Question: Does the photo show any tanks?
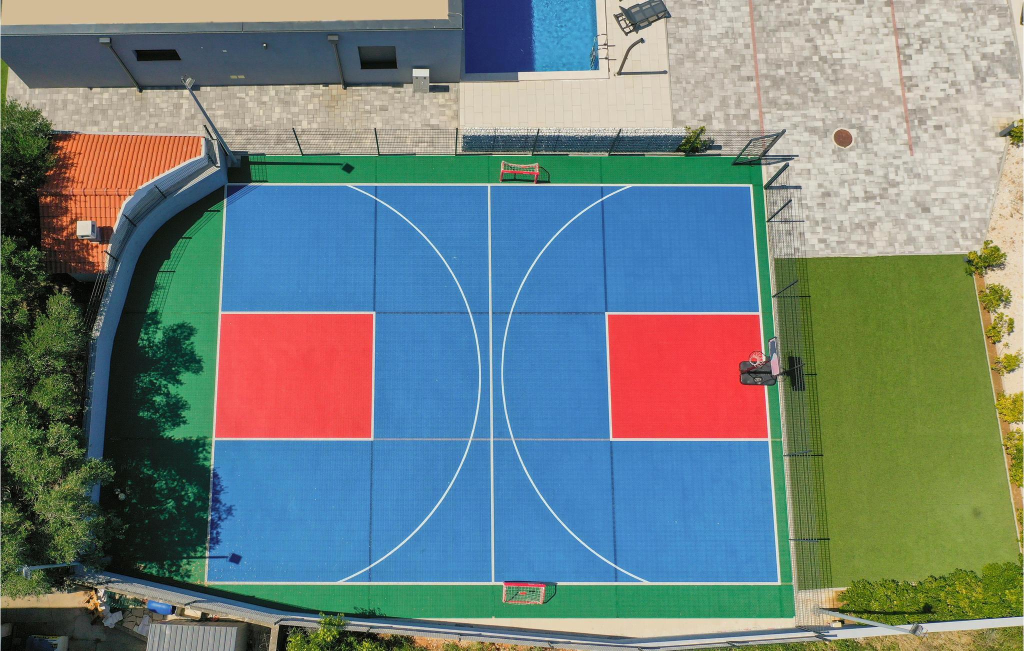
No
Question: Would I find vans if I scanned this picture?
No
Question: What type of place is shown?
sports ground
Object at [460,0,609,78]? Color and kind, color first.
blue swimming pool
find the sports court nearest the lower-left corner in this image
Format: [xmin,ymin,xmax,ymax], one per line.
[97,157,793,618]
